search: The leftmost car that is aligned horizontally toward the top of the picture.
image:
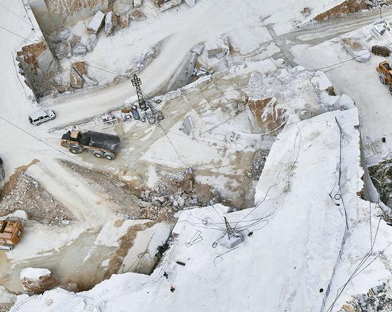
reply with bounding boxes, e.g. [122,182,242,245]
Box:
[24,111,56,128]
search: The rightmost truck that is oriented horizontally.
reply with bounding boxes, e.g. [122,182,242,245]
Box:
[54,130,118,159]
